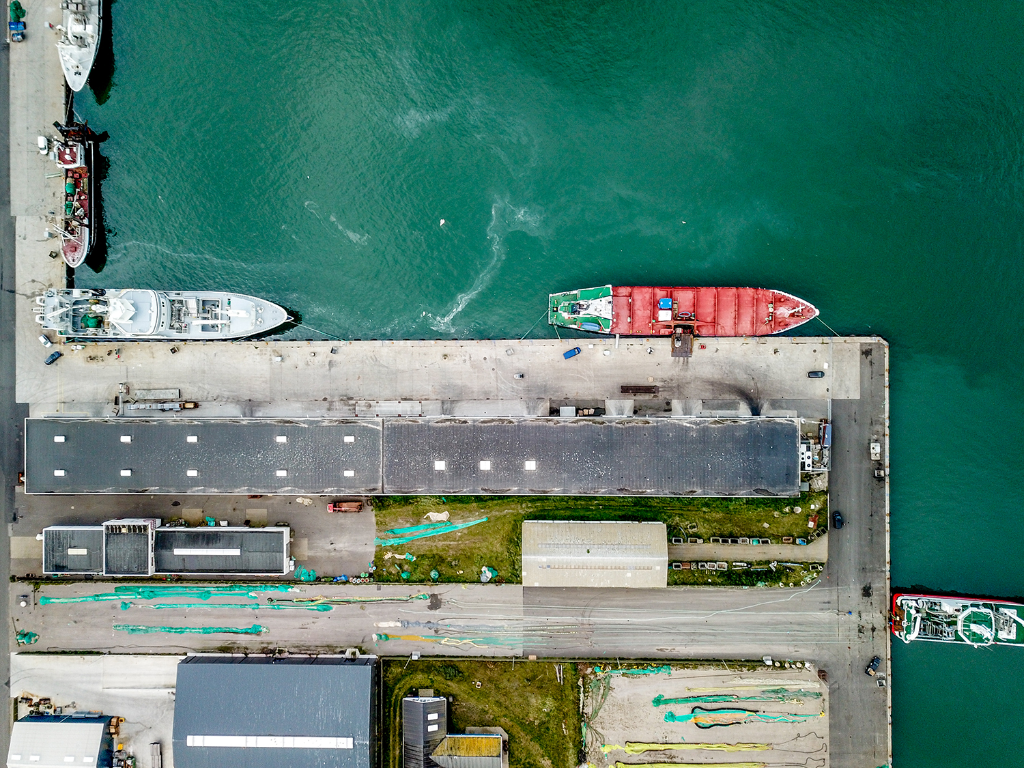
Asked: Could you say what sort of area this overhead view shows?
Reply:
port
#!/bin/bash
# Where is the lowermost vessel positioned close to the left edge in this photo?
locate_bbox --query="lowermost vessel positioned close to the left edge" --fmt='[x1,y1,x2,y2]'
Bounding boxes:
[32,289,294,340]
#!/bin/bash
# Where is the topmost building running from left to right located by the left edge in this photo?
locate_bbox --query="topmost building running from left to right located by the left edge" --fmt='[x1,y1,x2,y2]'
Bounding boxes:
[23,412,383,494]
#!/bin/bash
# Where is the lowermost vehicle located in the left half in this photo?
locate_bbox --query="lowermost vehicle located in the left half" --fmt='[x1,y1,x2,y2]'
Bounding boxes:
[328,500,363,513]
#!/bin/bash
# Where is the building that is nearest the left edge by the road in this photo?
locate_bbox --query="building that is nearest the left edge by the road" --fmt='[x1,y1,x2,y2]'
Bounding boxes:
[7,713,113,768]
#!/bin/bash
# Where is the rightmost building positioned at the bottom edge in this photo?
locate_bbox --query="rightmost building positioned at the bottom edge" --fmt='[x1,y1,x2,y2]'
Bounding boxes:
[403,693,502,768]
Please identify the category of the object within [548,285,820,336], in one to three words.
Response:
ship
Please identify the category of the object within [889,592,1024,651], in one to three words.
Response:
vessel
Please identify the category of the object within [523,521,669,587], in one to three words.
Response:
shed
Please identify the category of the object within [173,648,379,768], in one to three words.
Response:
building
